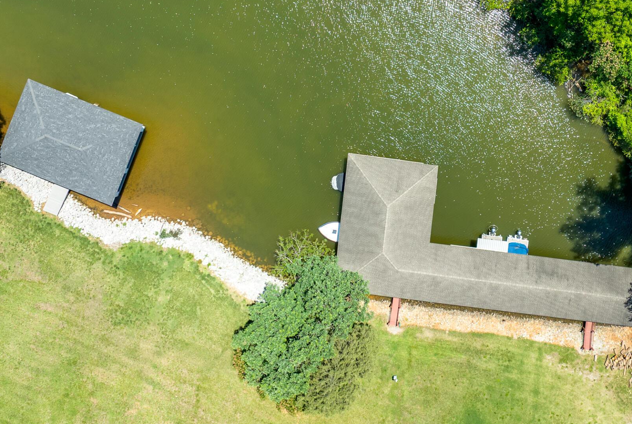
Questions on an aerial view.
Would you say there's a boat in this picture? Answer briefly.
Yes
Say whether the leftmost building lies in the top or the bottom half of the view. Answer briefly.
top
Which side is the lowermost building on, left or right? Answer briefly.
right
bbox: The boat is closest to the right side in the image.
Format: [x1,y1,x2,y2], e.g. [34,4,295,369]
[507,231,528,255]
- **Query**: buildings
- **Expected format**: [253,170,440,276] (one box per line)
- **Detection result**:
[0,79,150,207]
[336,153,632,327]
